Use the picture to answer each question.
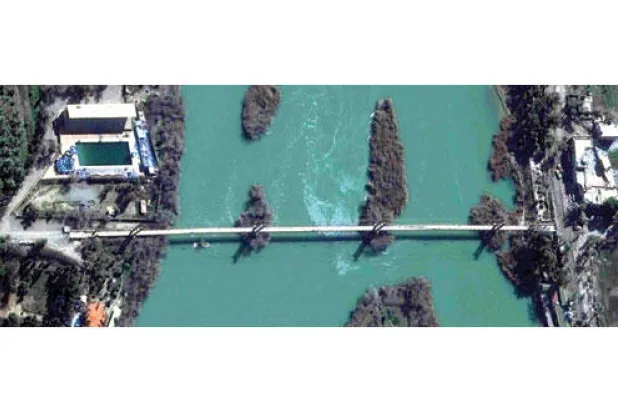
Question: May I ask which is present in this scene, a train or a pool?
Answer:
pool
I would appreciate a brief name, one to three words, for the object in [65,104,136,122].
building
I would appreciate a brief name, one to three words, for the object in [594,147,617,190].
building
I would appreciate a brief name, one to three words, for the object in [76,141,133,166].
swimming pool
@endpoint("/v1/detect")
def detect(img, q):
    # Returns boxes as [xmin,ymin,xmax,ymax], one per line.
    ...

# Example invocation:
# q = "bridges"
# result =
[70,217,557,239]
